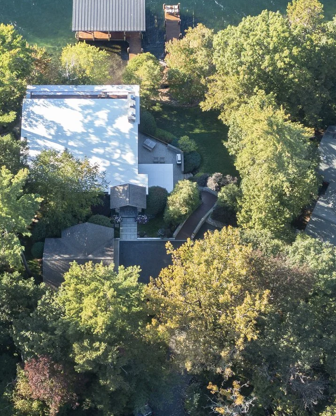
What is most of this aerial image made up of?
trees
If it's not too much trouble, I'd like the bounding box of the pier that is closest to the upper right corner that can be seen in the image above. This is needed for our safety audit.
[163,2,181,57]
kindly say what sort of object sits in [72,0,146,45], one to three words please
building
